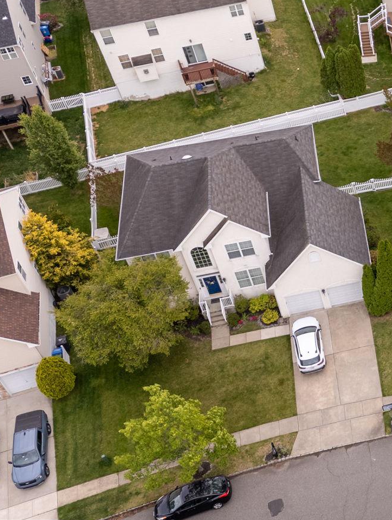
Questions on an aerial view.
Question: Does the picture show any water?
No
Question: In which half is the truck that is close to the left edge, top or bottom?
bottom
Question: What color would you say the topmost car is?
white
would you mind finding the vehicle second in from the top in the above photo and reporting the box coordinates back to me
[6,405,51,487]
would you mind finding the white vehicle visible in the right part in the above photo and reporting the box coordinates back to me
[289,319,326,374]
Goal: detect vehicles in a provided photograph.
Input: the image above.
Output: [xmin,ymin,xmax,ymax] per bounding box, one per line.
[289,319,326,374]
[151,476,233,520]
[6,405,51,487]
